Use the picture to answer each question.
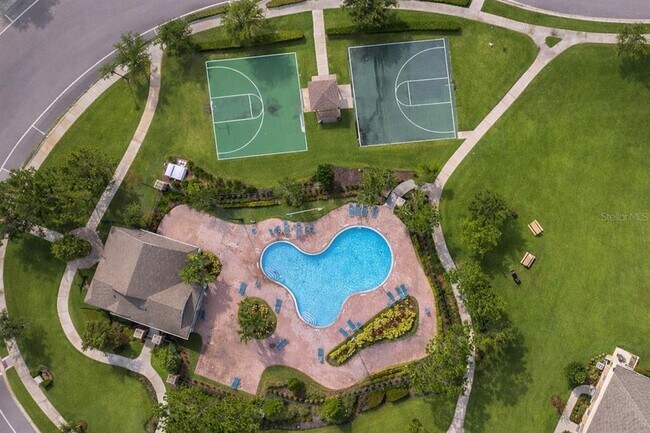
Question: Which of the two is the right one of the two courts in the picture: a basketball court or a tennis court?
basketball court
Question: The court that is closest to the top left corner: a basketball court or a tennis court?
basketball court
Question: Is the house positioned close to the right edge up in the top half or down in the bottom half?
bottom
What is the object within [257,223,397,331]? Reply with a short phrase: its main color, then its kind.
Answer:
blue swimming pool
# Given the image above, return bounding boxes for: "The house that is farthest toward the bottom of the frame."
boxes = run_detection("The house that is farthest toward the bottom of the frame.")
[574,348,650,433]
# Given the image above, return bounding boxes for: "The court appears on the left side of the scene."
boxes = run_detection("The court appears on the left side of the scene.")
[206,53,308,160]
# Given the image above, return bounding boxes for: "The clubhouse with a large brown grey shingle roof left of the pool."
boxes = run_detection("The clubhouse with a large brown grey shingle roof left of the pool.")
[85,225,208,340]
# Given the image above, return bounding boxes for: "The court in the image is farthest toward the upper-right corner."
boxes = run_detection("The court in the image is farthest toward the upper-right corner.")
[348,38,460,147]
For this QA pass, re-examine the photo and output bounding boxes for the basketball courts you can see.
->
[348,38,460,147]
[206,53,308,160]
